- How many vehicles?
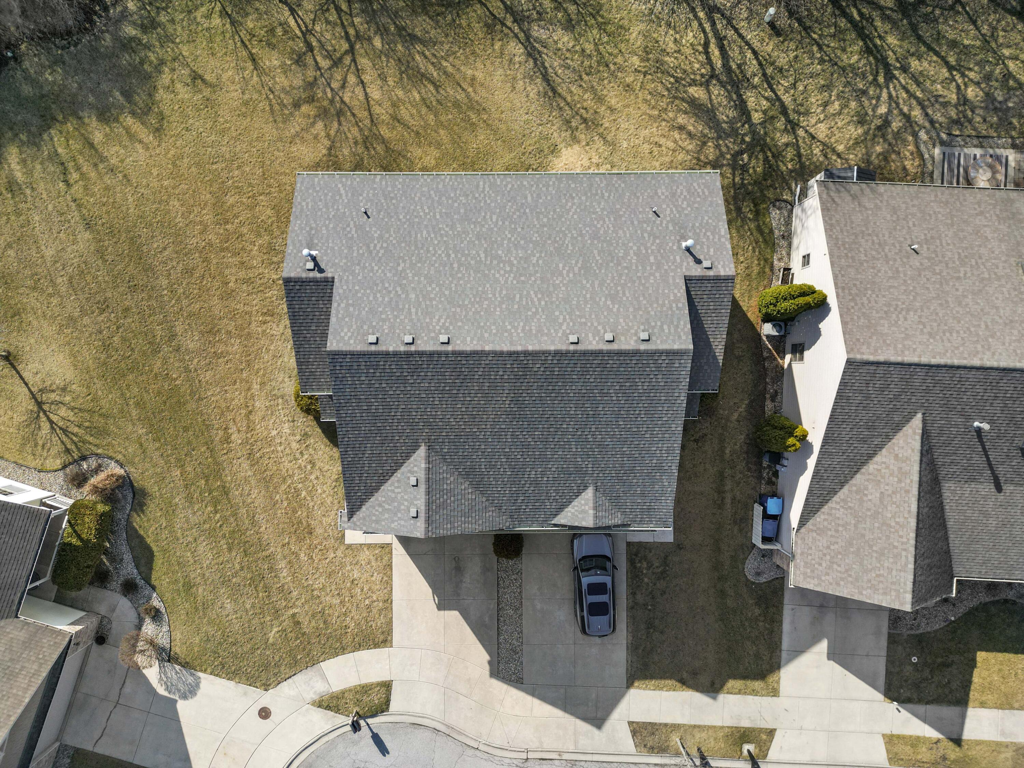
1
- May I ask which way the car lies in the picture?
up and down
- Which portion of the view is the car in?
bottom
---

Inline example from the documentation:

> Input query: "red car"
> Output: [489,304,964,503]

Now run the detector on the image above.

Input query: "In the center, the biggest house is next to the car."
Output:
[282,169,734,539]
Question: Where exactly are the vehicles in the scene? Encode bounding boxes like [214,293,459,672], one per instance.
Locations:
[568,534,621,639]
